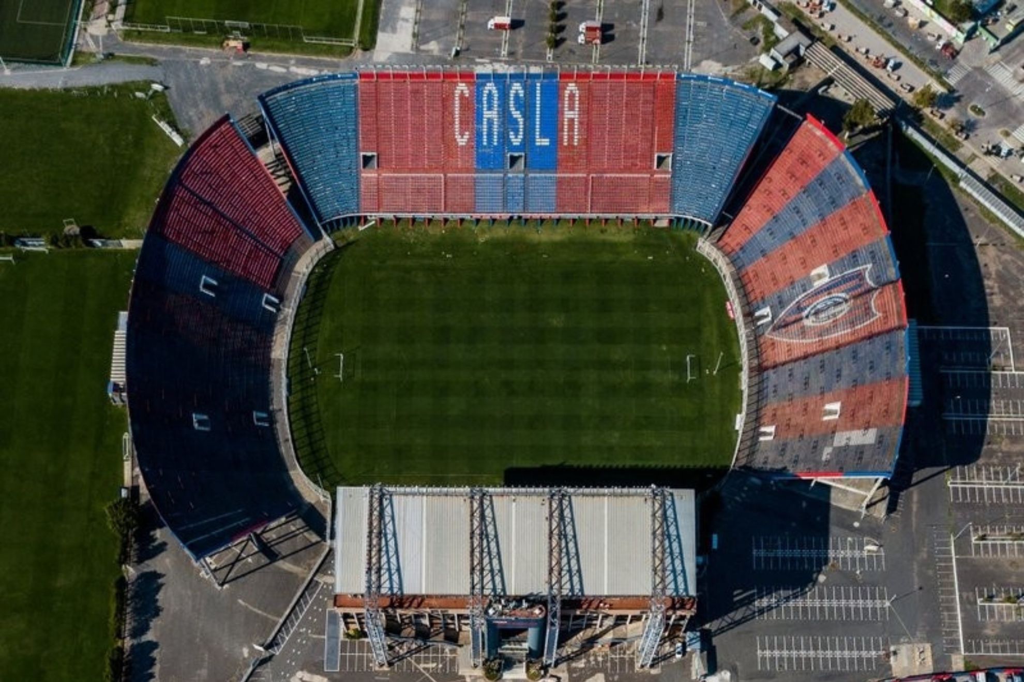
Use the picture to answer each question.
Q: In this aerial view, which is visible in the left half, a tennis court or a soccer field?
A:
soccer field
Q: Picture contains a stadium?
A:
Yes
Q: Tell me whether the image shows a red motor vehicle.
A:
Yes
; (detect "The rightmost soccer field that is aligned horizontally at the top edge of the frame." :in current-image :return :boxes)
[119,0,359,59]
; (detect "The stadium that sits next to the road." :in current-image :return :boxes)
[124,64,908,680]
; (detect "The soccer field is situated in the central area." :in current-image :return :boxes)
[287,219,745,538]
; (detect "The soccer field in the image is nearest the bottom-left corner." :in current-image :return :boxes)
[0,250,145,682]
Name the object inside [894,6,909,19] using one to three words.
vehicle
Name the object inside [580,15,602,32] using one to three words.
vehicle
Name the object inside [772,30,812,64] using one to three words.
house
